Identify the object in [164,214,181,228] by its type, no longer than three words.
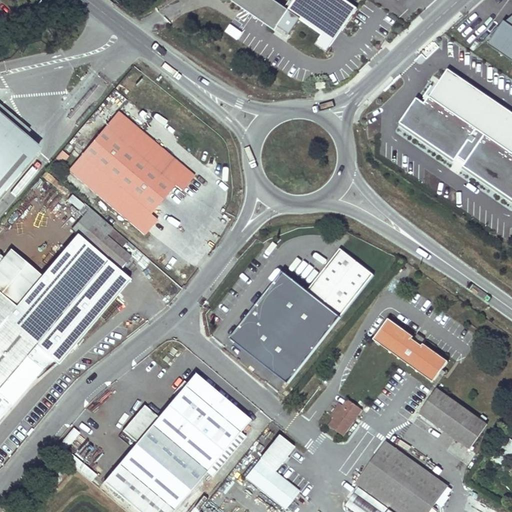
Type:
vehicle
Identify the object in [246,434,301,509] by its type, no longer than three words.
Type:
building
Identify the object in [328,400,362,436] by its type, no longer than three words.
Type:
house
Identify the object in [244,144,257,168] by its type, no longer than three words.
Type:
vehicle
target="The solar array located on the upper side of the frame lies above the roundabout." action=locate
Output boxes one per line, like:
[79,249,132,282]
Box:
[292,0,354,37]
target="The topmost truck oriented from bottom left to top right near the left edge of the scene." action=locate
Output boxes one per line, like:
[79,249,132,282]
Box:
[10,162,40,197]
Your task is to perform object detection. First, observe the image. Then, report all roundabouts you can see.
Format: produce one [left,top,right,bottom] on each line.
[243,102,355,212]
